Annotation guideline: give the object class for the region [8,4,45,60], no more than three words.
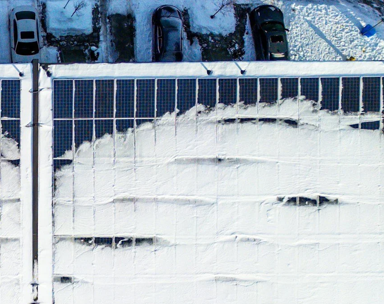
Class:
car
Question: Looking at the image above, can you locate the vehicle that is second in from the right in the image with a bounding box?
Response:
[149,7,189,60]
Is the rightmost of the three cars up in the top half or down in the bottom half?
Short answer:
top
